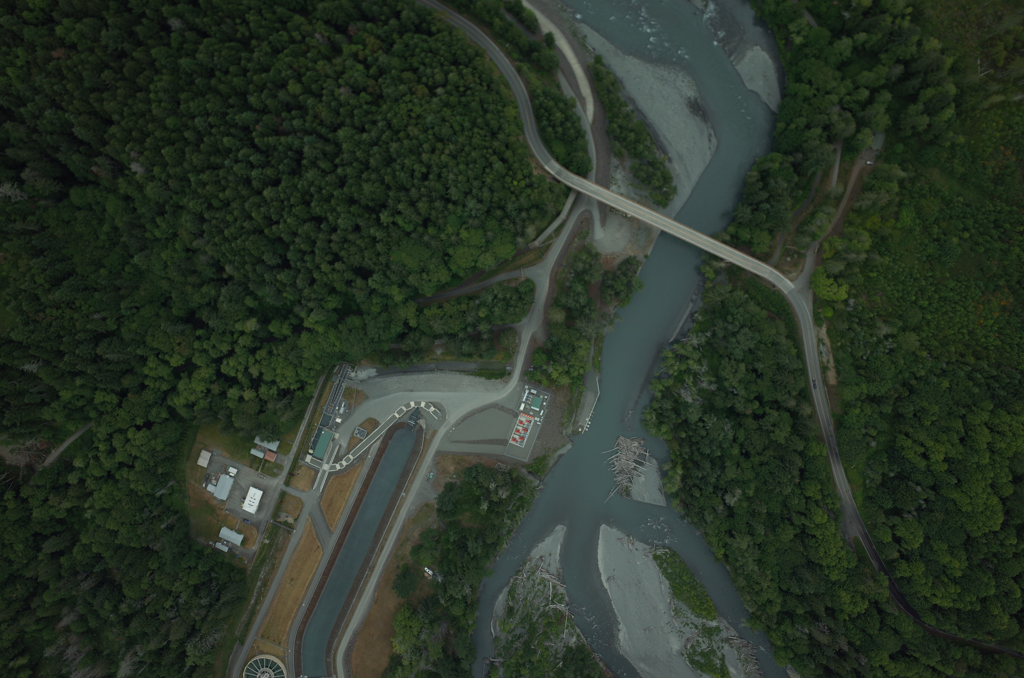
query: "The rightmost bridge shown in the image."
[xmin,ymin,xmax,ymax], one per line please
[544,157,796,297]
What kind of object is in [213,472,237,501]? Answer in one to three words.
building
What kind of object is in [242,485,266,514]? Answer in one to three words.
building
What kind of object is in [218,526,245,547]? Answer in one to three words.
house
